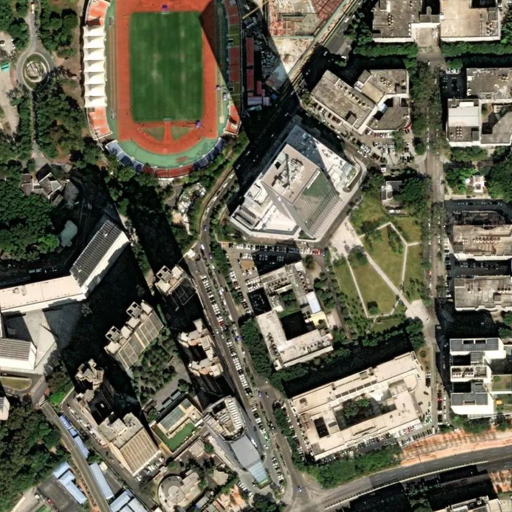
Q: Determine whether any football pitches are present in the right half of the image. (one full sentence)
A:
No, there is no football pitch in the right half of the image.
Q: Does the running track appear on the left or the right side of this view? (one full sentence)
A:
It is on the left.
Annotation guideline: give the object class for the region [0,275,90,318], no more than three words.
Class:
building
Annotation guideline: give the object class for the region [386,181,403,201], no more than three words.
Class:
house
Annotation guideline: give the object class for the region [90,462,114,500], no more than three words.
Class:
shed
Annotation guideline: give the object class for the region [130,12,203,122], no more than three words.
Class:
soccer field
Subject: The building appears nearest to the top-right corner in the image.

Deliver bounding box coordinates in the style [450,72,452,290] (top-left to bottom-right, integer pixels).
[440,0,502,42]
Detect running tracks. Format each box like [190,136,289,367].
[106,0,228,165]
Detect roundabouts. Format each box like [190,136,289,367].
[17,48,54,94]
